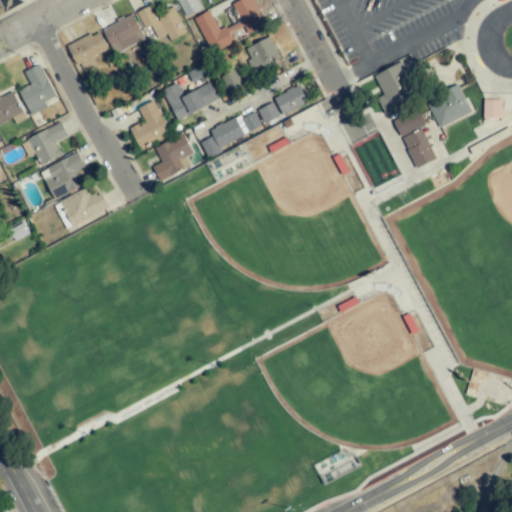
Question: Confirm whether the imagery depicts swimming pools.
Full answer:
Yes, you can see a swimming pool in this photo.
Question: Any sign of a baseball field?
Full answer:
Yes, looking at the shot, I can spot a baseball field.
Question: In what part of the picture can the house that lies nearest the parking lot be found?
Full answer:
You can find the house that lies nearest the parking lot in the top right area of the picture.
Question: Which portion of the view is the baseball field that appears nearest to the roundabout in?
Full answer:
The baseball field that appears nearest to the roundabout is located in the right region of the scene.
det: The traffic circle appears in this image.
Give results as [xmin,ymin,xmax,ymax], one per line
[478,2,512,78]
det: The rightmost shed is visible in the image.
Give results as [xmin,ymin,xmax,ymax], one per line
[484,99,504,119]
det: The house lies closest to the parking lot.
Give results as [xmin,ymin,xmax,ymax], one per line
[376,63,406,113]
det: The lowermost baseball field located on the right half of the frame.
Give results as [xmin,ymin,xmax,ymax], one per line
[256,292,456,452]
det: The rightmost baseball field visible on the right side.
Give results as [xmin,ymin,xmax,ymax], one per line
[382,135,512,379]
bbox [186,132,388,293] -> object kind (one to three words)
baseball field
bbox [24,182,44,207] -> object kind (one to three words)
swimming pool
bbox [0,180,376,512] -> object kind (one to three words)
sports field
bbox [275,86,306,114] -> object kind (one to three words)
house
